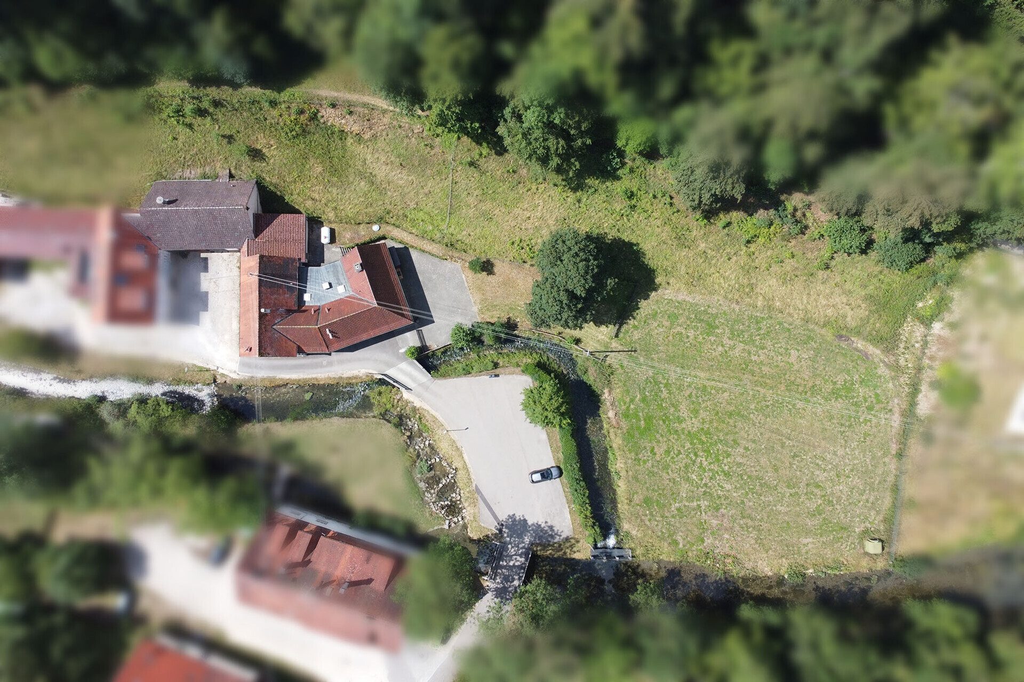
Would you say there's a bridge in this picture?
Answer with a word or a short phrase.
Yes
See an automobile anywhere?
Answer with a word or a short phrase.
Yes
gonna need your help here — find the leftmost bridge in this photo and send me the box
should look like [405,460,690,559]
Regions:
[381,359,435,392]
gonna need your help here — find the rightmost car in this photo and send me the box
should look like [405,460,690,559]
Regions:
[528,467,561,484]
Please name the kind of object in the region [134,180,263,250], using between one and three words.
barn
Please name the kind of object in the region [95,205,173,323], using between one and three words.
house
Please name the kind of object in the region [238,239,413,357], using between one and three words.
house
